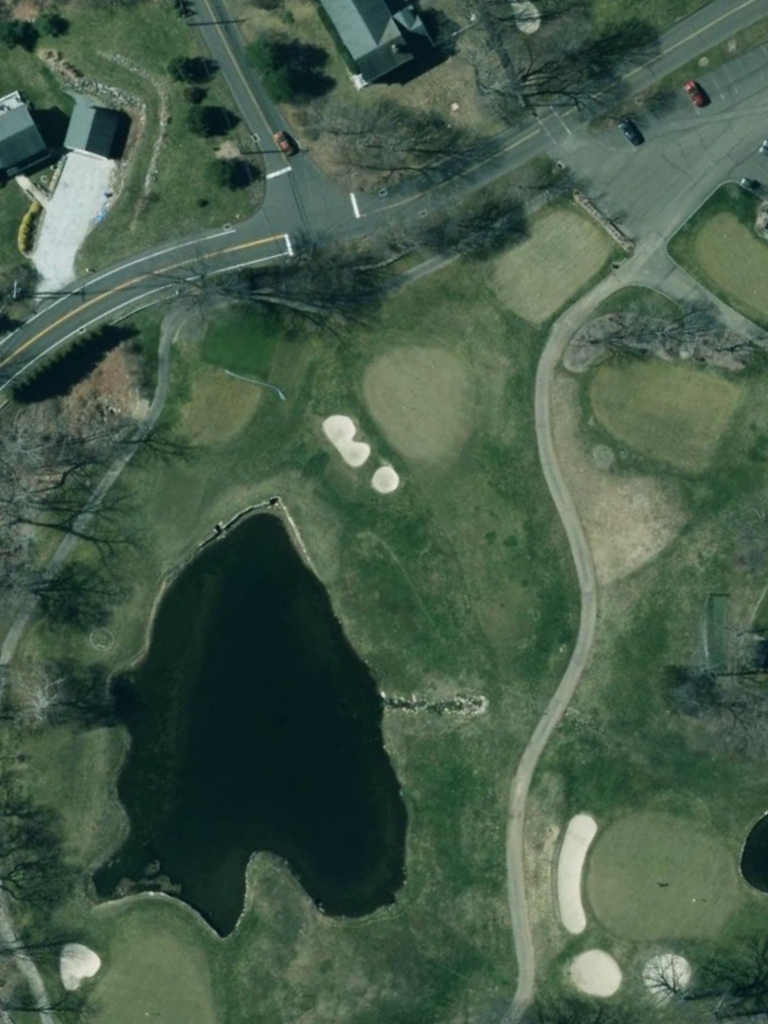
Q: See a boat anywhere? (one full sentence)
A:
No, I can't see a single boat in this photo.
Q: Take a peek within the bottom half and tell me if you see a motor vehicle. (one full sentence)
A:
No, no motor vehicle is visible within the bottom half.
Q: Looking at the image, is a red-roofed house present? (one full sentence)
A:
No, the photo shows no red-roofed house.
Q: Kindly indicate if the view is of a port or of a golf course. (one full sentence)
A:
The picture captures a golf course.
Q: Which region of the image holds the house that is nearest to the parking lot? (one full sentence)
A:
The house that is nearest to the parking lot appears toward the top of the photo.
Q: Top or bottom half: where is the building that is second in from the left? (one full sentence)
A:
The building that is second in from the left sits in the top half of the picture.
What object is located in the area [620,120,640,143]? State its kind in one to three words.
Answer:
car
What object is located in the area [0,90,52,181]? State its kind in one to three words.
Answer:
house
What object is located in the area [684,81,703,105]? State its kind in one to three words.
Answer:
car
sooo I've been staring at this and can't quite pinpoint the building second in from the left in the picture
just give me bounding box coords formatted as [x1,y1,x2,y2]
[64,90,116,162]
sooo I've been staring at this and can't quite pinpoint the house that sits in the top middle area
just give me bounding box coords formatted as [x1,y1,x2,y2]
[324,0,435,79]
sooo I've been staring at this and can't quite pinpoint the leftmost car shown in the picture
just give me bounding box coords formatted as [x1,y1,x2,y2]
[273,128,291,152]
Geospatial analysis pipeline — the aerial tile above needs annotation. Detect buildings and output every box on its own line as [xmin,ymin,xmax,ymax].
[324,0,435,79]
[0,90,52,181]
[64,90,116,162]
